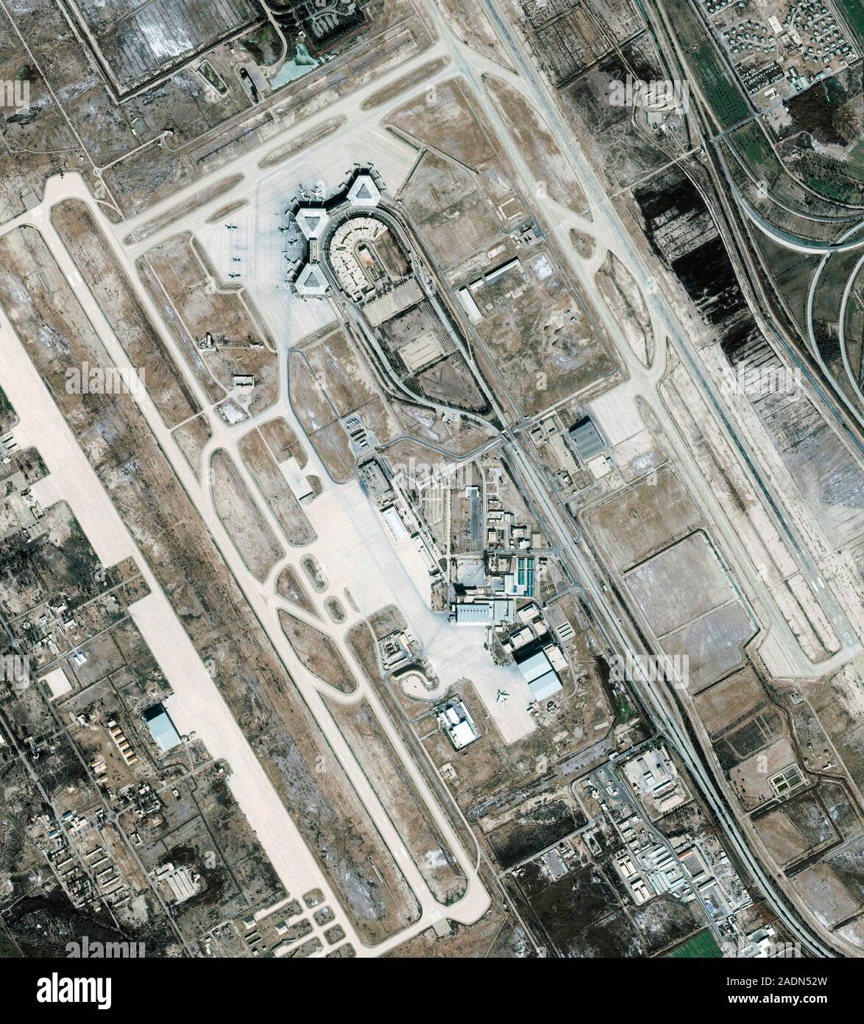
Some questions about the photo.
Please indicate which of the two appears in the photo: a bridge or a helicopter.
bridge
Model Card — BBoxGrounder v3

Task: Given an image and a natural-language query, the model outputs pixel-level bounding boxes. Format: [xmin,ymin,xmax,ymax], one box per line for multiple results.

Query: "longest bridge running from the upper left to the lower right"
[486,393,530,463]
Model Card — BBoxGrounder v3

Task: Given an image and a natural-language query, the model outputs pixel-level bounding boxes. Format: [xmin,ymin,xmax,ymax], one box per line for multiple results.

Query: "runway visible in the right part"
[480,0,864,654]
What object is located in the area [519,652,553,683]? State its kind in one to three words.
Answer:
hangar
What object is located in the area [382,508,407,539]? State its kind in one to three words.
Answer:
building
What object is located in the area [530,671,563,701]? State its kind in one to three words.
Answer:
hangar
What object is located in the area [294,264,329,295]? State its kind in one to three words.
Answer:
building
